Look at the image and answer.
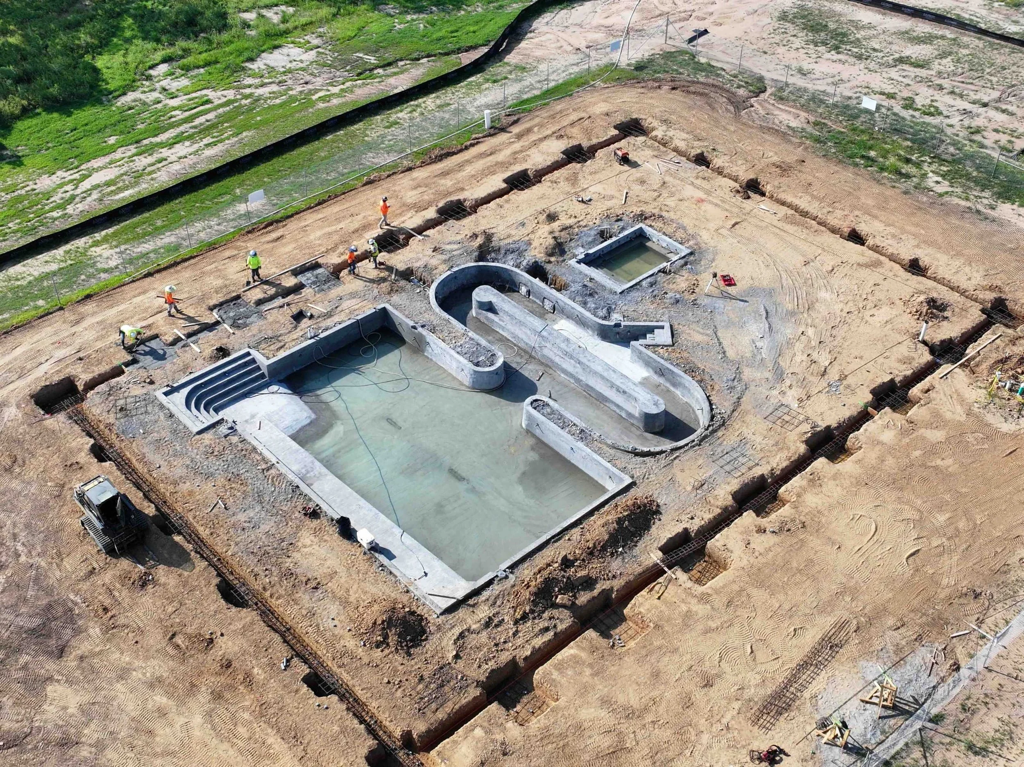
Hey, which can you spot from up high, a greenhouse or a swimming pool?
swimming pool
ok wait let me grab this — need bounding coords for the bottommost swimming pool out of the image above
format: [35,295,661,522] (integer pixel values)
[154,264,709,617]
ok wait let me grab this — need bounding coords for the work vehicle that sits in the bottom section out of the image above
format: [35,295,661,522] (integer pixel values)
[72,476,158,572]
